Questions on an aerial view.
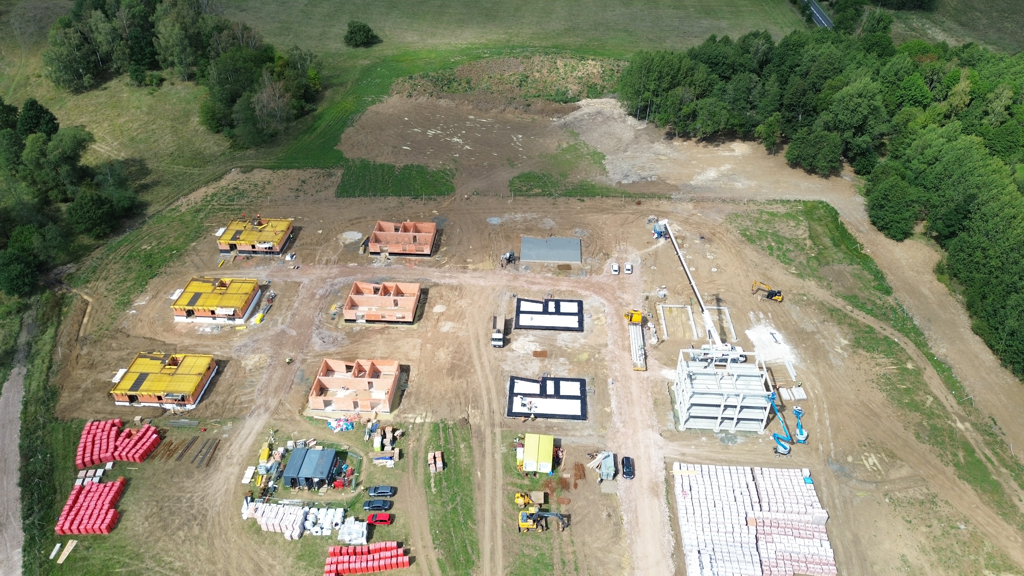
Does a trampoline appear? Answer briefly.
No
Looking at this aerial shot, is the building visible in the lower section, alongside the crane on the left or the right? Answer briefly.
right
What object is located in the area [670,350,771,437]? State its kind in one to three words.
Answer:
building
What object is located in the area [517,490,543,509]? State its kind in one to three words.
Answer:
vehicle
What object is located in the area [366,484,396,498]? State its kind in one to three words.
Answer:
car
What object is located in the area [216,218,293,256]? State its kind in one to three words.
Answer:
house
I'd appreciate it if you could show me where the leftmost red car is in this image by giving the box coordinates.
[366,510,394,525]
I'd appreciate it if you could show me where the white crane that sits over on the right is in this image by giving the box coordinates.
[639,223,756,365]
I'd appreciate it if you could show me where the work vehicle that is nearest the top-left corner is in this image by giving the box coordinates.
[501,250,515,268]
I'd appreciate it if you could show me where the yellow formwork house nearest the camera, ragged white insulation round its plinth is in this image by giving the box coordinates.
[110,352,217,410]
